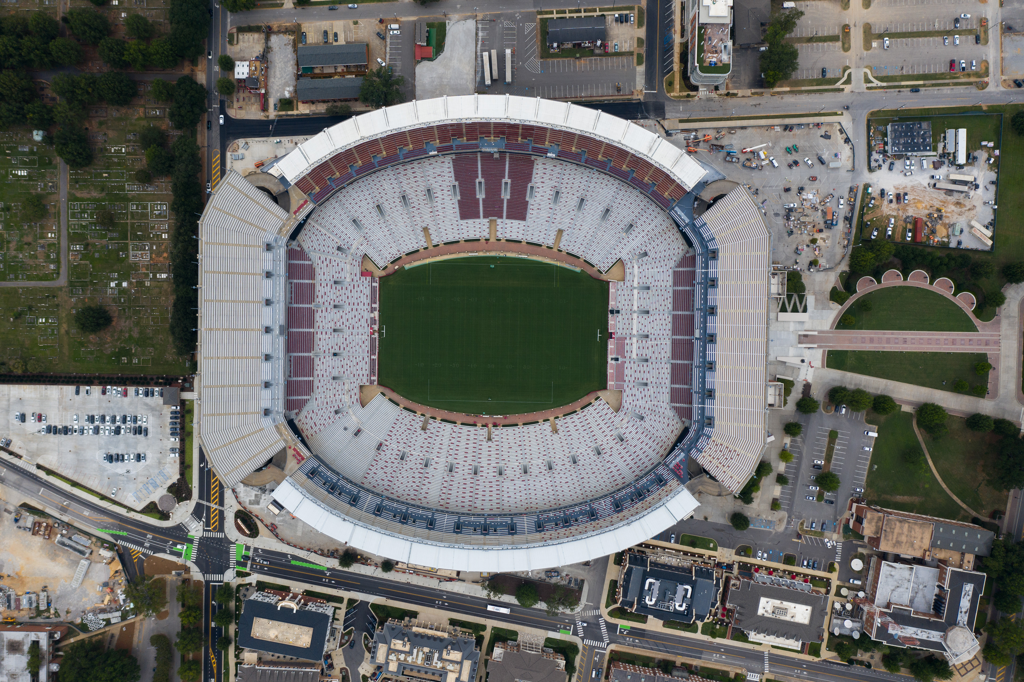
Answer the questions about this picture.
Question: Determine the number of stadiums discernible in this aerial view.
one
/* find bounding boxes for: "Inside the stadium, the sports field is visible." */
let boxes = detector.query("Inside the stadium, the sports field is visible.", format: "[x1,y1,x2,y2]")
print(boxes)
[378,257,608,416]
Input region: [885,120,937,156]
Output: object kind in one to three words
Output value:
building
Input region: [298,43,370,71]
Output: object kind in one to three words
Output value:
building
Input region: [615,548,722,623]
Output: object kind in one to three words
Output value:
house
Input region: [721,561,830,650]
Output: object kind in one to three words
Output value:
house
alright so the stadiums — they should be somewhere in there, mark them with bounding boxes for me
[189,91,778,574]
